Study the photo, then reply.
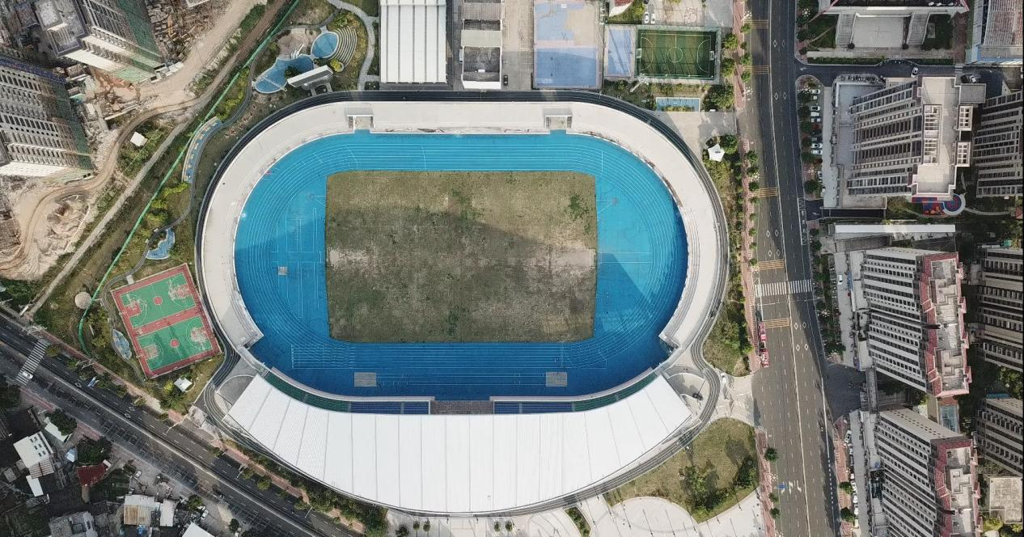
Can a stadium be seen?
Yes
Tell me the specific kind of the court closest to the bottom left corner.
basketball court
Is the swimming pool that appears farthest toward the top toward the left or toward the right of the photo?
left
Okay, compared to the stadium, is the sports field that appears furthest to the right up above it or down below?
above it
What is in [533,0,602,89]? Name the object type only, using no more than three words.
sports court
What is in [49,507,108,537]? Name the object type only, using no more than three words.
house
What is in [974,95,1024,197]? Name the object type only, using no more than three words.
building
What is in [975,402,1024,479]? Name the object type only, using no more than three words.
building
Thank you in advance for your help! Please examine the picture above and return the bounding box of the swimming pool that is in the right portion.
[656,96,702,112]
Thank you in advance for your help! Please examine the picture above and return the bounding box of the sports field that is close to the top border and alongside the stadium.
[633,25,720,84]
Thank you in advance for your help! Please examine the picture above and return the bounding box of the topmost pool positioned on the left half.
[310,31,340,58]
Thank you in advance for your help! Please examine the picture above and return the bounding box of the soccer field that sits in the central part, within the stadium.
[325,170,596,343]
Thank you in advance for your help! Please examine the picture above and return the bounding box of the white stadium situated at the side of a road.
[203,102,716,516]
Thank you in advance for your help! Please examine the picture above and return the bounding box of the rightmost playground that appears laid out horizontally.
[912,193,967,216]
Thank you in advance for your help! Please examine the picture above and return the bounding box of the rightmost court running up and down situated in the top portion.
[604,23,633,89]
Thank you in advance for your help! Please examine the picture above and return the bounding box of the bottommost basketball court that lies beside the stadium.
[112,264,221,379]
